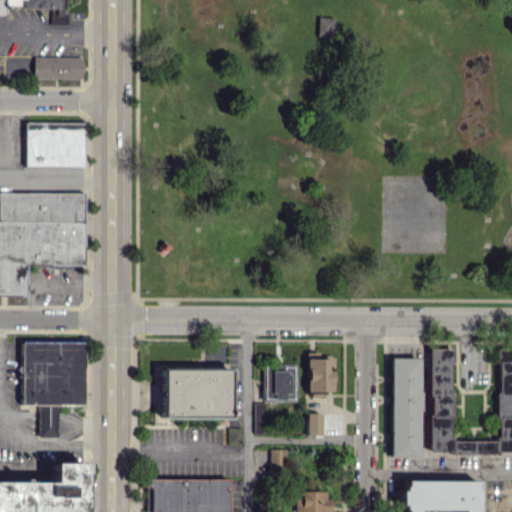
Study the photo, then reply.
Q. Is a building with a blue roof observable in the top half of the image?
No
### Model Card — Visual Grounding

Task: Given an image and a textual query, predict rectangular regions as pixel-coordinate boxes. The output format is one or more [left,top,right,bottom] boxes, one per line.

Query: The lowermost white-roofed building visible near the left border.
[0,464,96,512]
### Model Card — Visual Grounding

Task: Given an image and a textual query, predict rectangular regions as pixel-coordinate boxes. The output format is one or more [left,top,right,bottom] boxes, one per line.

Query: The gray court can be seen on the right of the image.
[382,176,446,254]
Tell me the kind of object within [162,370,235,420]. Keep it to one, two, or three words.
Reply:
building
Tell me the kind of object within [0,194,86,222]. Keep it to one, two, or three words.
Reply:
building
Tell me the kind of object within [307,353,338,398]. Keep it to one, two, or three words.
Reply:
house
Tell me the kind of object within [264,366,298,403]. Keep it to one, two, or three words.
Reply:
house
